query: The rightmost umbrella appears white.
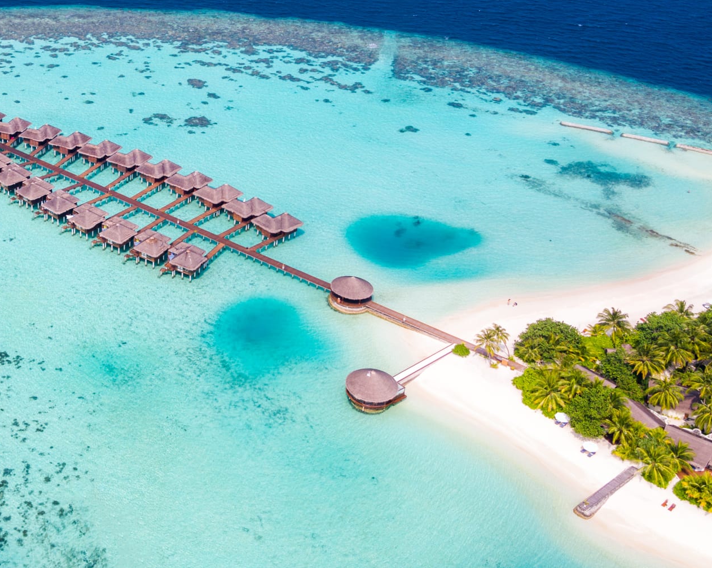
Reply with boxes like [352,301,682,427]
[581,443,598,457]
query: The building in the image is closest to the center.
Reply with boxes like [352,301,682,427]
[326,276,375,320]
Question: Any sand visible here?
Yes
